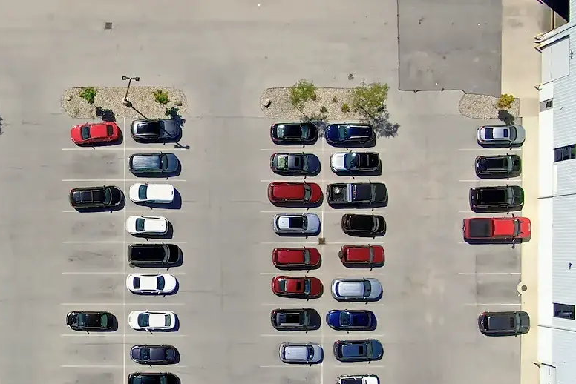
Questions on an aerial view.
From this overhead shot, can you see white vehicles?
Yes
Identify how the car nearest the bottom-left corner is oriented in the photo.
horizontally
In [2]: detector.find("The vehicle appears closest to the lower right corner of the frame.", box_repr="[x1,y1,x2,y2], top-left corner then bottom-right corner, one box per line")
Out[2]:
[476,311,530,335]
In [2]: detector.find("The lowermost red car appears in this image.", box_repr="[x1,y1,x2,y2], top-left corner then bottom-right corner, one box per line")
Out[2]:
[270,275,322,298]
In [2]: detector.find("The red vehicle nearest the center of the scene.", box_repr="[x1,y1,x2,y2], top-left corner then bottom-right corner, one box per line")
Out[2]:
[267,179,322,205]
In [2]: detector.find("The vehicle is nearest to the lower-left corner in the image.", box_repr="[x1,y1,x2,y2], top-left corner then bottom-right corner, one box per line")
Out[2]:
[66,309,115,333]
